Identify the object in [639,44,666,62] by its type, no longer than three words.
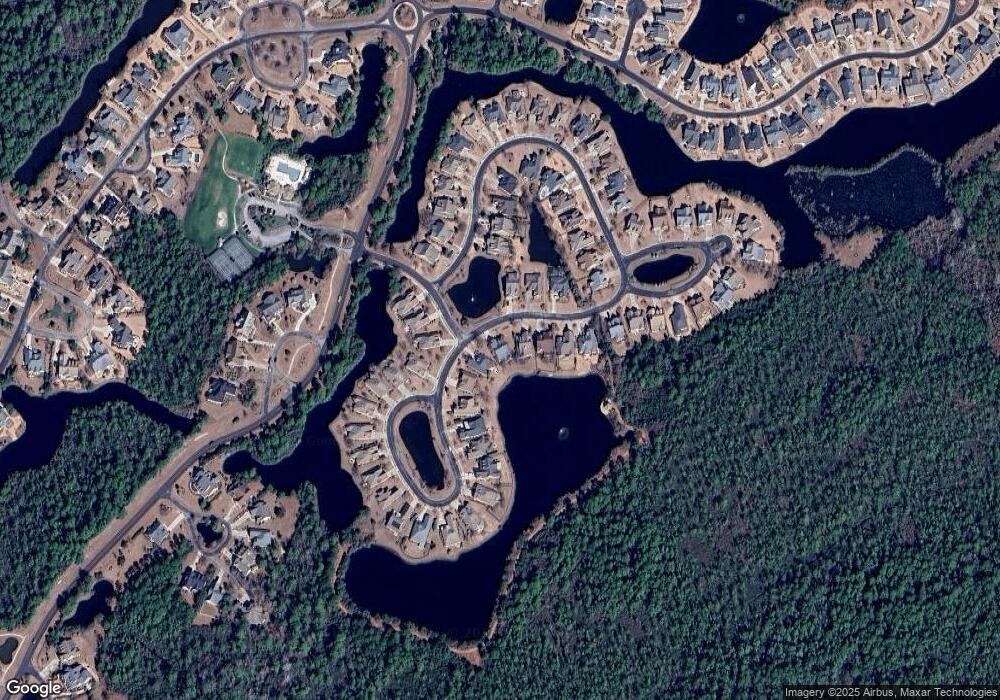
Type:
house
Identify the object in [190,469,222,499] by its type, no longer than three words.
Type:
house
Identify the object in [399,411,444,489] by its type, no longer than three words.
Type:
pond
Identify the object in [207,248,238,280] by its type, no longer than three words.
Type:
tennis court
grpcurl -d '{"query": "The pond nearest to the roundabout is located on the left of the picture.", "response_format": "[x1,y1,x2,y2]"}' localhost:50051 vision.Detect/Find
[301,45,387,157]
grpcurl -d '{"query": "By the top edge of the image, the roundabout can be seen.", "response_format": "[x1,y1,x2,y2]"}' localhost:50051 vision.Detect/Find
[382,0,429,46]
